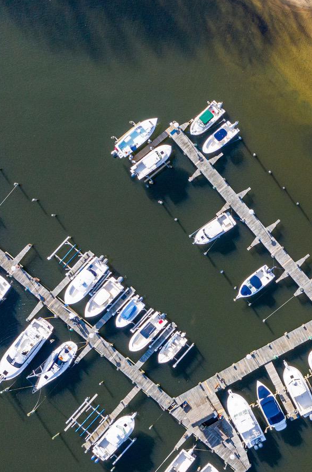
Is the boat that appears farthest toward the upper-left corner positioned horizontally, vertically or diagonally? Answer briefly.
diagonally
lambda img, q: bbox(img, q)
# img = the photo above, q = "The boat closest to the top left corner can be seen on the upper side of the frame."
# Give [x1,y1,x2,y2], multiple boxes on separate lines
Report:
[115,117,158,158]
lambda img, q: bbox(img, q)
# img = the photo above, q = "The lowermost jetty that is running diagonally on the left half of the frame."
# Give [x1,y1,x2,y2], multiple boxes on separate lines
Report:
[84,386,140,449]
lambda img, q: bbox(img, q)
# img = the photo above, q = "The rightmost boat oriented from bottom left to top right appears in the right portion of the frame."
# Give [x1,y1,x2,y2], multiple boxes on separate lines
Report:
[237,265,276,298]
